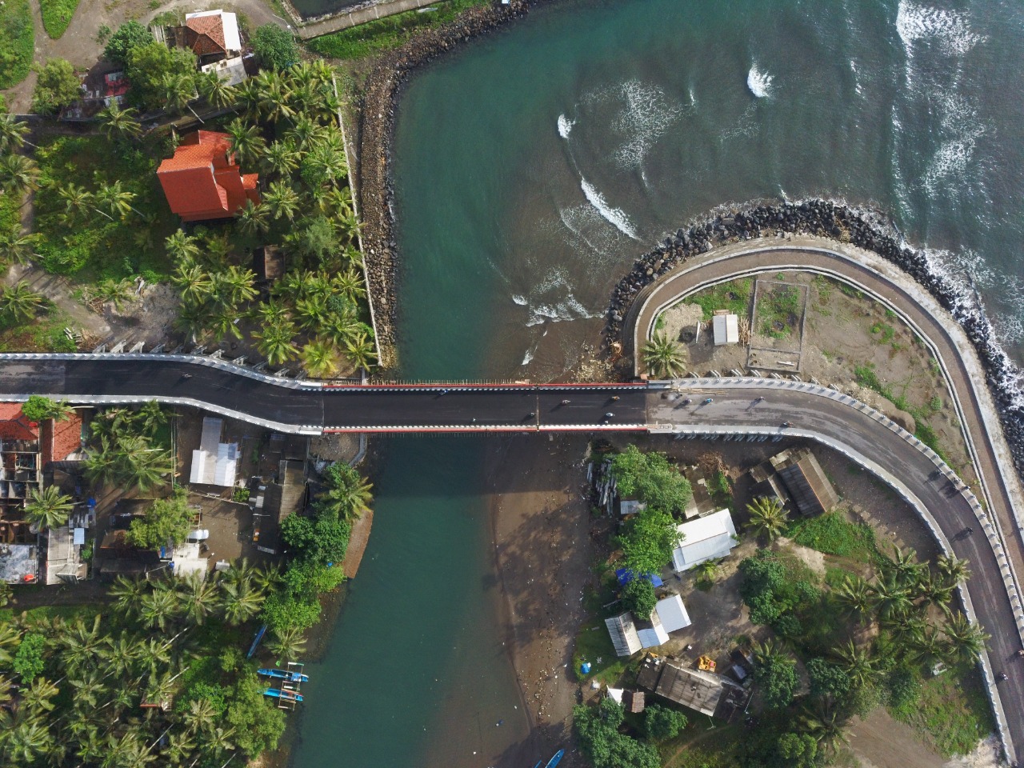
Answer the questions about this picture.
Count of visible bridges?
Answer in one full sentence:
The picture shows just 1 bridge.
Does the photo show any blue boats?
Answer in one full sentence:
Yes, there is a blue boat in the image.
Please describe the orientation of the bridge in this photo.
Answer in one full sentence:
From this overhead view, the bridge appears to run from left to right.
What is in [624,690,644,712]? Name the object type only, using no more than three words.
shed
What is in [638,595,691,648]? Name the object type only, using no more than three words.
house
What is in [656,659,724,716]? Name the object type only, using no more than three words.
building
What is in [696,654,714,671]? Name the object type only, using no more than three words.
work vehicle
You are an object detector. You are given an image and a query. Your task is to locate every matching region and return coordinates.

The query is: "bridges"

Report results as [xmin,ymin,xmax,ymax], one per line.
[321,379,647,438]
